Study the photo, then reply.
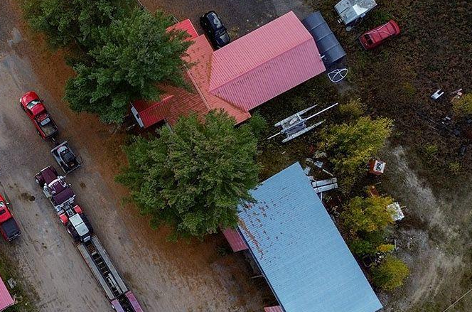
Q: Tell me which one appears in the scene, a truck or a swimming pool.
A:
truck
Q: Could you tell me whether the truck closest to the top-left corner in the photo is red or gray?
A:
red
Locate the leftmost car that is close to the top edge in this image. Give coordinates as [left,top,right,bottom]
[200,8,232,48]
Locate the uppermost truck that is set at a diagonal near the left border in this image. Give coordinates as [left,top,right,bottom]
[20,91,59,139]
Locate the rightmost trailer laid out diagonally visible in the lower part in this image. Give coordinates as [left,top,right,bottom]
[69,211,144,312]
